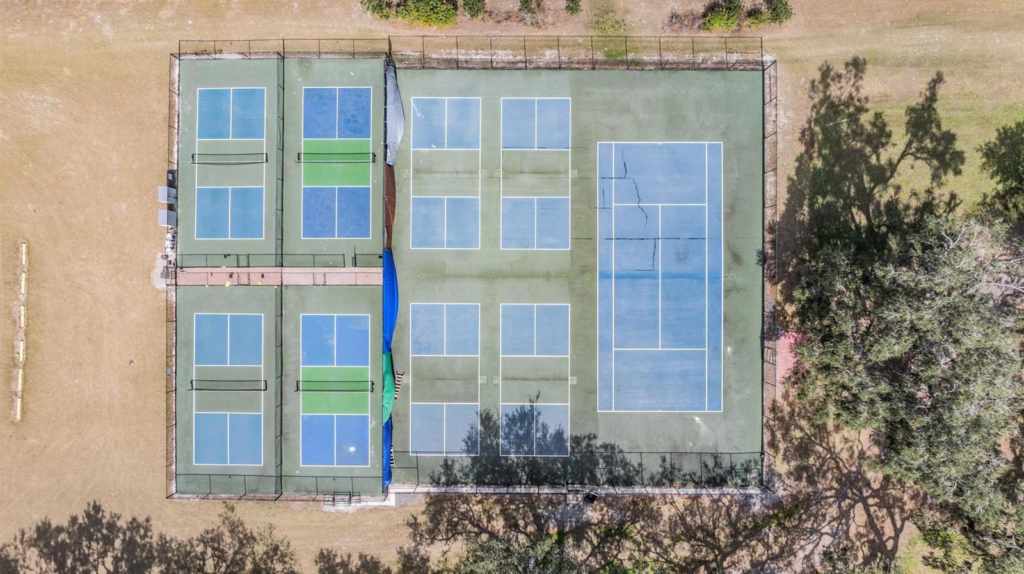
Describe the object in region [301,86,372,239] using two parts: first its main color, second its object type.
blue sports court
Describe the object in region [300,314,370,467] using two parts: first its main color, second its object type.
blue sports court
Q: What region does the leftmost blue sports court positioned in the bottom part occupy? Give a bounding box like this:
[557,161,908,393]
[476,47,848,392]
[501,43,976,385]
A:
[193,313,263,466]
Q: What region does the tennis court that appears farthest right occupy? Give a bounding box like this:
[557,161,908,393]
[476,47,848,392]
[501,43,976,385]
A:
[597,142,723,412]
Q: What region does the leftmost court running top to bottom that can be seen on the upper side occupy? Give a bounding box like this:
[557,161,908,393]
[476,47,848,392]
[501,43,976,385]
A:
[195,87,265,239]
